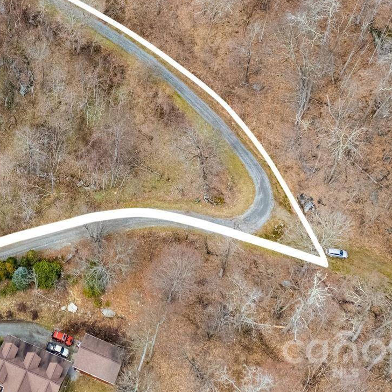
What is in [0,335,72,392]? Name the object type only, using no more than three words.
house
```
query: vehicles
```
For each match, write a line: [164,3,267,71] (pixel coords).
[53,330,73,346]
[46,341,70,359]
[326,249,349,260]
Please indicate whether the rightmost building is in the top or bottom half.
bottom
